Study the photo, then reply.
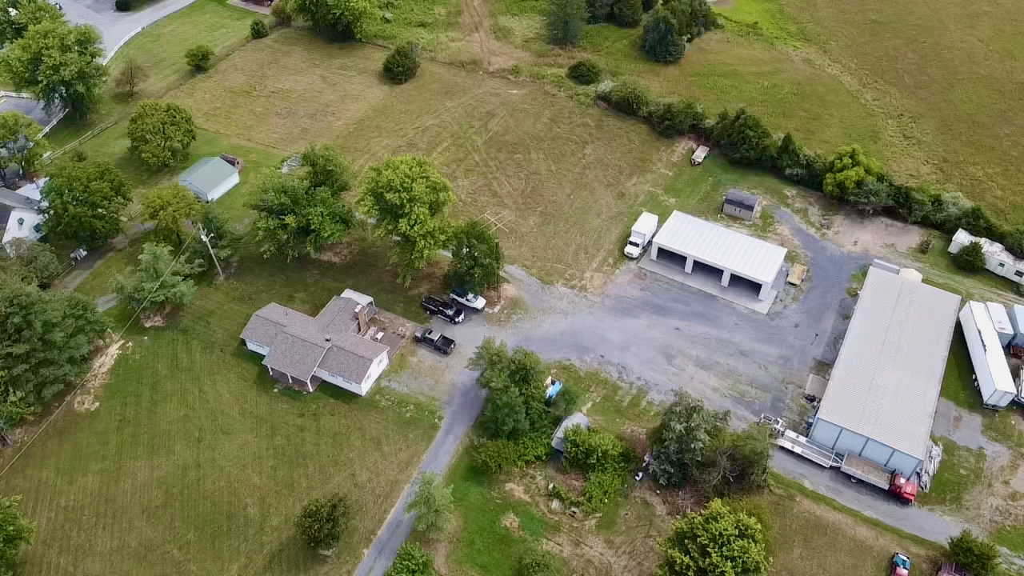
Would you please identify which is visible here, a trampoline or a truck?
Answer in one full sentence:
The one in the frame is a truck.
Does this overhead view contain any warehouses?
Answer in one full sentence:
Yes, I can see a warehouse in this picture.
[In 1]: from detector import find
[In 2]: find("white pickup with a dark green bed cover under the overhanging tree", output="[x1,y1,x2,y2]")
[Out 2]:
[446,283,486,310]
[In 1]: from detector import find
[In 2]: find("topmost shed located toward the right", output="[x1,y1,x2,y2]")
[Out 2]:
[724,189,759,220]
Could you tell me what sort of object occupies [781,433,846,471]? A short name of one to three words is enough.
trailer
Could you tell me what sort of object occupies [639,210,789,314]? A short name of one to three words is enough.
building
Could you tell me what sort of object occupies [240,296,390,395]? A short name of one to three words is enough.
house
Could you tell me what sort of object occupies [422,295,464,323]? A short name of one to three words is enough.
truck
